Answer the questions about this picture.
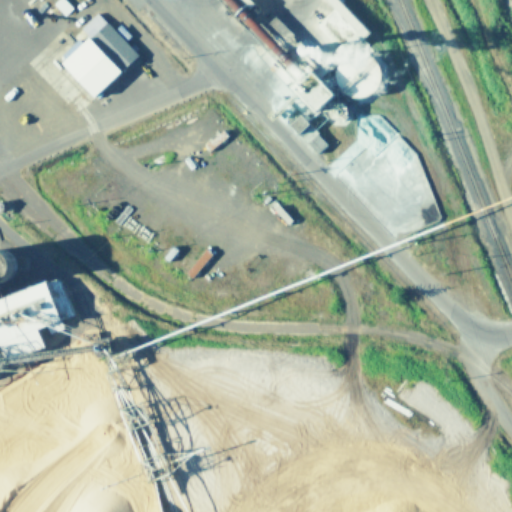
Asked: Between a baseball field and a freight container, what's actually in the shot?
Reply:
freight container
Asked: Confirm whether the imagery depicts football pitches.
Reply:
No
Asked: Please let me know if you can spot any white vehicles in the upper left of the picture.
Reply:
Yes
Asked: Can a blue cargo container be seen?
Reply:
No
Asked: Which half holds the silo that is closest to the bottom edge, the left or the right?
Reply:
left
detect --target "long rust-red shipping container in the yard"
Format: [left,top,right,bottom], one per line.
[190,250,214,280]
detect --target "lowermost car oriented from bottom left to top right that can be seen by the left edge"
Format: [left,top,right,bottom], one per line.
[3,86,21,103]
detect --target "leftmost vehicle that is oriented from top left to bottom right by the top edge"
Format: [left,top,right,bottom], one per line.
[22,10,40,30]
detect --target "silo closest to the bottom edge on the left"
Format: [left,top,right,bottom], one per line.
[0,250,22,288]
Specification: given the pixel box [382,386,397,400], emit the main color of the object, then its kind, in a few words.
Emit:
white vehicle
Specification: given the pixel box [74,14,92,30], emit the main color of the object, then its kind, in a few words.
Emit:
white vehicle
